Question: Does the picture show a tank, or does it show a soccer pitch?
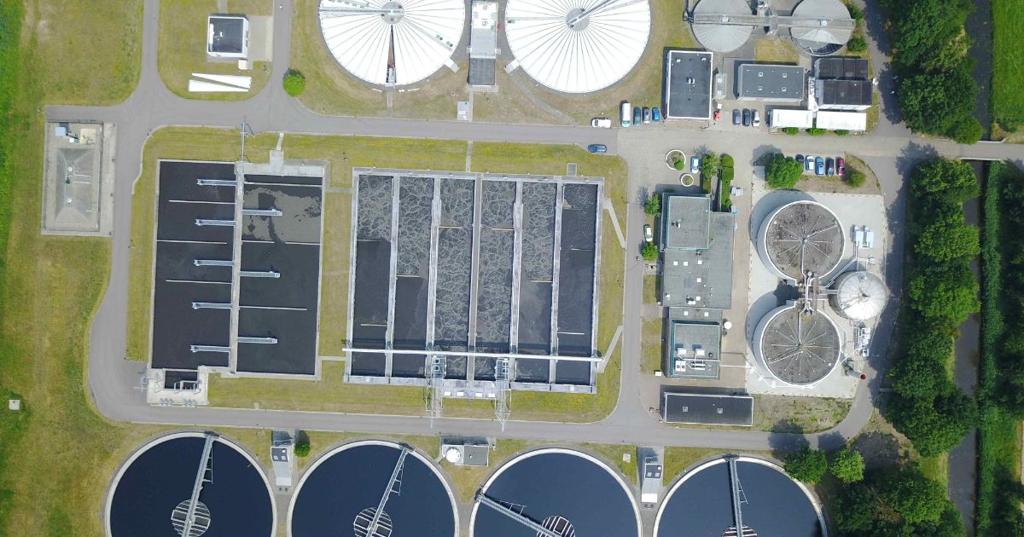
tank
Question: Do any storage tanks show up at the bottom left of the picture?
Yes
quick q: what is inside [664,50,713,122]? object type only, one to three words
building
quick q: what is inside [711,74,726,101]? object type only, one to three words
shed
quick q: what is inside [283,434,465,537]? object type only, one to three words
storage tank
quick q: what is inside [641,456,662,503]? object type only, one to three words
building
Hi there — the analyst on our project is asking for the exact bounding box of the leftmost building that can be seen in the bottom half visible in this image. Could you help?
[271,440,294,486]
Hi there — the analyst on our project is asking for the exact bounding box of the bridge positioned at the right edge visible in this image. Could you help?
[958,137,1007,162]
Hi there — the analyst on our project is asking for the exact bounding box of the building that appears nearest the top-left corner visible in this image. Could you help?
[207,16,249,57]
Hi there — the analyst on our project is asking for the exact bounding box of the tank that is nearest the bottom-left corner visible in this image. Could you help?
[100,426,283,537]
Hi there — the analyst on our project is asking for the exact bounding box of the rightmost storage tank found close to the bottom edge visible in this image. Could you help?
[648,450,831,537]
